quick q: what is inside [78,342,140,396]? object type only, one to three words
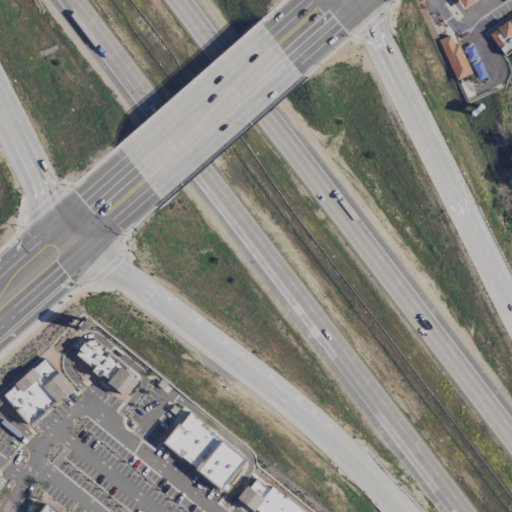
building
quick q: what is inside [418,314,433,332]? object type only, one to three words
vehicle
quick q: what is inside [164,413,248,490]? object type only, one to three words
building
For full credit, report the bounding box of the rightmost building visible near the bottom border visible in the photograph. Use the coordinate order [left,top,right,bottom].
[240,480,305,512]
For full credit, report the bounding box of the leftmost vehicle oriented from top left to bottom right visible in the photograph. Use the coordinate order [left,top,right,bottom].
[1,420,28,442]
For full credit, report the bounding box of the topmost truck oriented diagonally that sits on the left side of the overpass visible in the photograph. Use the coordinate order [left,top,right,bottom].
[77,22,106,58]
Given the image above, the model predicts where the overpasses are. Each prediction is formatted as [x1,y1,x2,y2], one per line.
[117,19,308,212]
